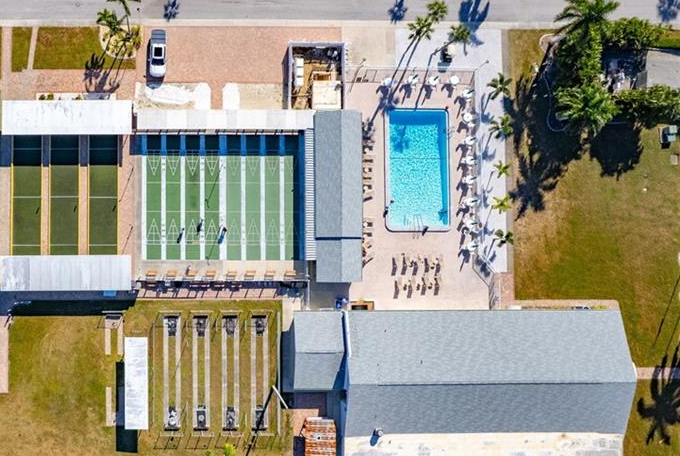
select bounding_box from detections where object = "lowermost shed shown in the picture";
[301,417,336,456]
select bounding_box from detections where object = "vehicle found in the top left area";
[148,28,168,77]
